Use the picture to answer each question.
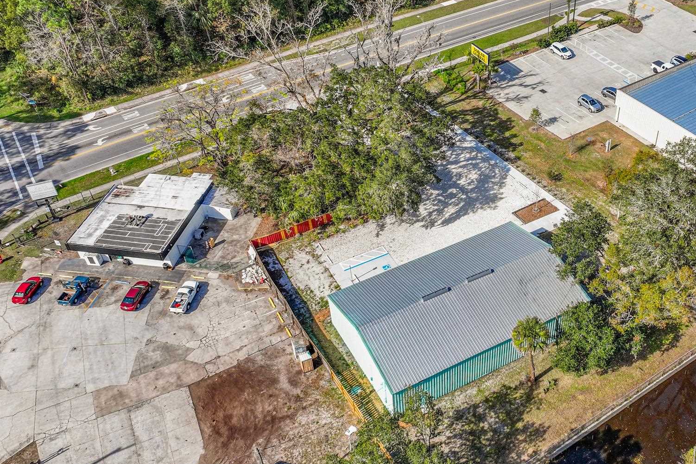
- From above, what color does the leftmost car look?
red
